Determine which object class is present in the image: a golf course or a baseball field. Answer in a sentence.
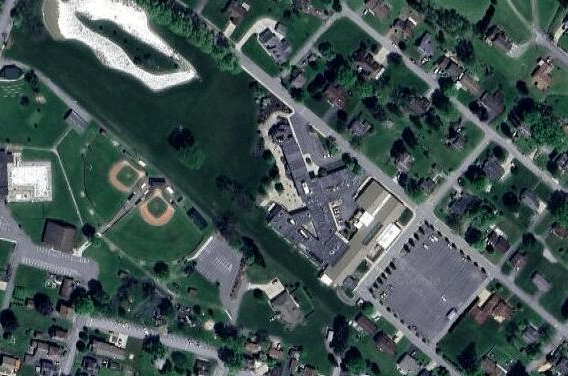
There is a baseball field in the scene.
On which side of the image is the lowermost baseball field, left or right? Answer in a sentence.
You can find the lowermost baseball field on the left side of the picture.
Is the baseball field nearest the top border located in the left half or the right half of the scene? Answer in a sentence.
The baseball field nearest the top border appears in the left half of the scene.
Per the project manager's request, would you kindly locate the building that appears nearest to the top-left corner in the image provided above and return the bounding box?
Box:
[0,63,22,79]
